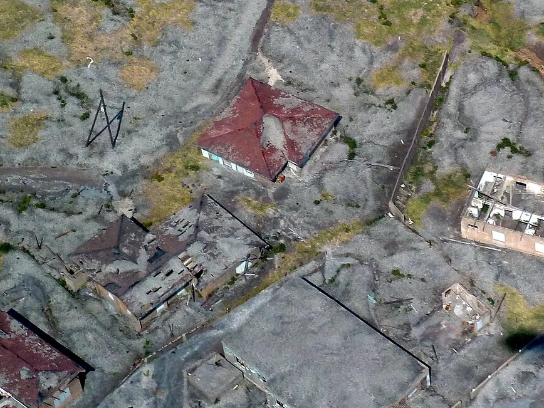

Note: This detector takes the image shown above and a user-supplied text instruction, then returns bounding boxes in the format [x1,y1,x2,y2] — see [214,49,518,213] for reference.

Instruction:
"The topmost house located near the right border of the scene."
[448,161,544,261]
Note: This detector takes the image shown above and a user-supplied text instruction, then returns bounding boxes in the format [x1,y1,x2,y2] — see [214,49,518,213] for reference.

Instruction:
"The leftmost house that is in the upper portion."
[194,76,343,196]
